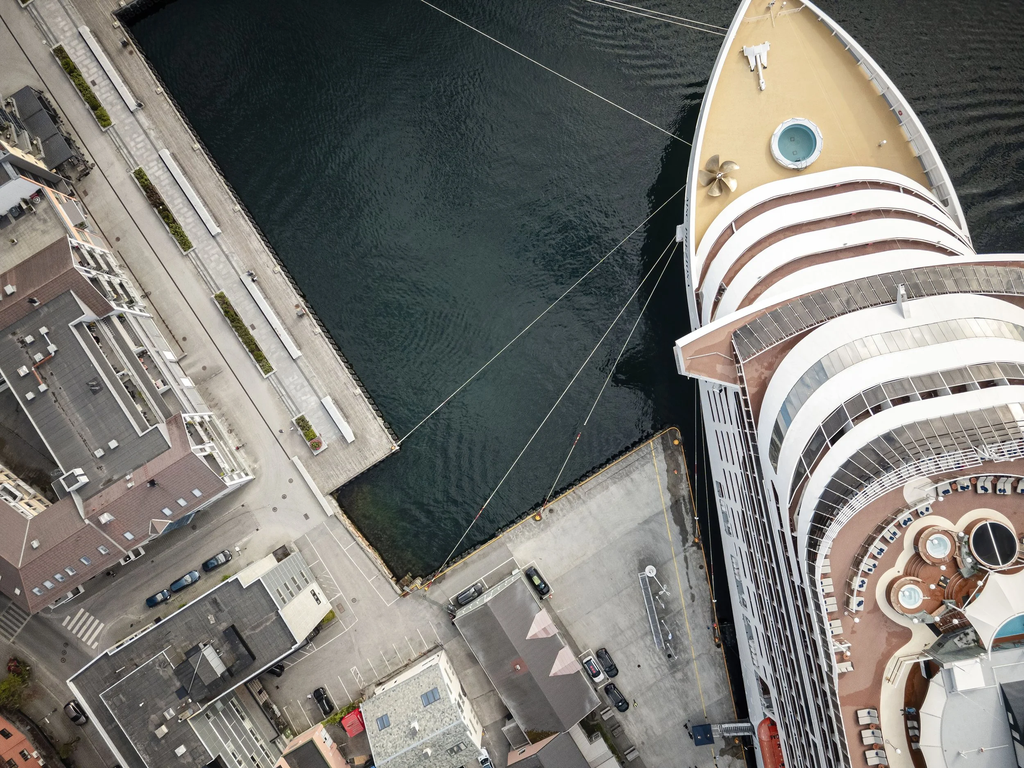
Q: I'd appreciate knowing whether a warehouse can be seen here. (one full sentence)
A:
Yes, there is a warehouse in the image.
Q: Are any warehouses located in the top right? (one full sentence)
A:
No, in the top right there is no warehouse.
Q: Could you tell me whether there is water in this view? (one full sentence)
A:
Yes, some water is visible.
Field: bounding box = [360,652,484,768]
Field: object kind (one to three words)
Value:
house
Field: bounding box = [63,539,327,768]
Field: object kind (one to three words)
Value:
building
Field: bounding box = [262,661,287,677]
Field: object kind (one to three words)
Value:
car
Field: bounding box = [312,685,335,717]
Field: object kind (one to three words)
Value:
car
